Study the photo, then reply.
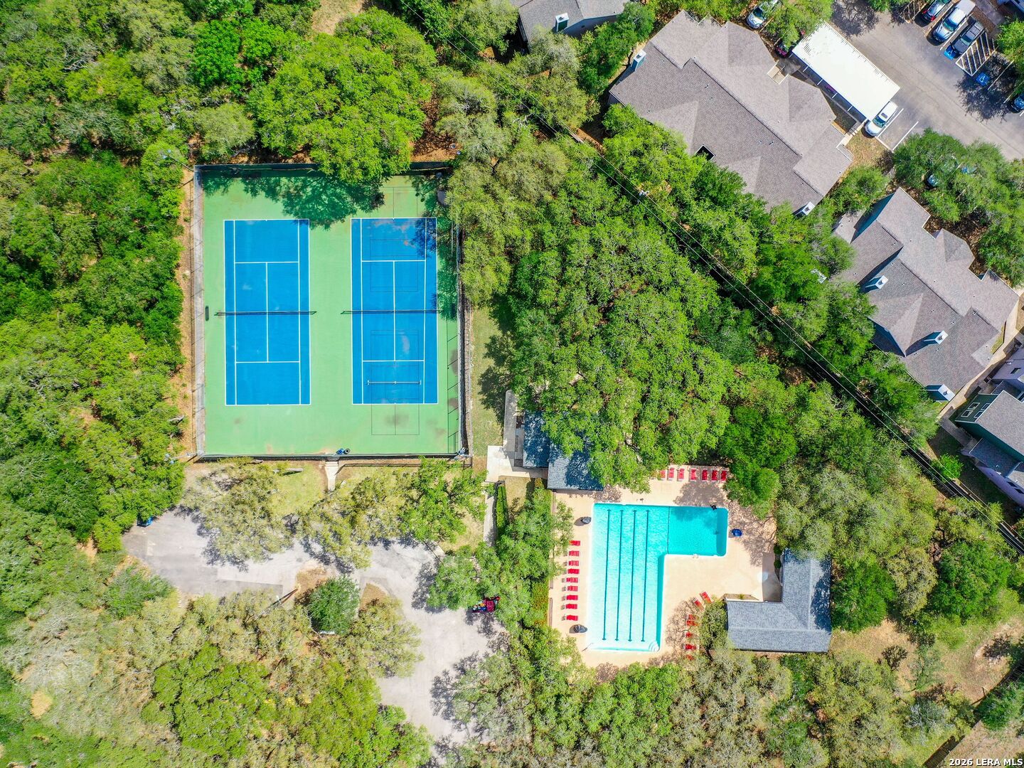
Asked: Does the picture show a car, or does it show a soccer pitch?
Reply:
car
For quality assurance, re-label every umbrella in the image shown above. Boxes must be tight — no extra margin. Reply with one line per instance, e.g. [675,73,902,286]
[573,625,589,635]
[578,517,594,526]
[730,527,743,536]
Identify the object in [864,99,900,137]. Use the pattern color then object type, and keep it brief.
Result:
white car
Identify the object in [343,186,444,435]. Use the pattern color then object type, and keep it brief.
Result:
blue tennis court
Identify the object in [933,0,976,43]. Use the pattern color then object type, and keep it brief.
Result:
white truck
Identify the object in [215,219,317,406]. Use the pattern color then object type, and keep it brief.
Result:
blue tennis court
